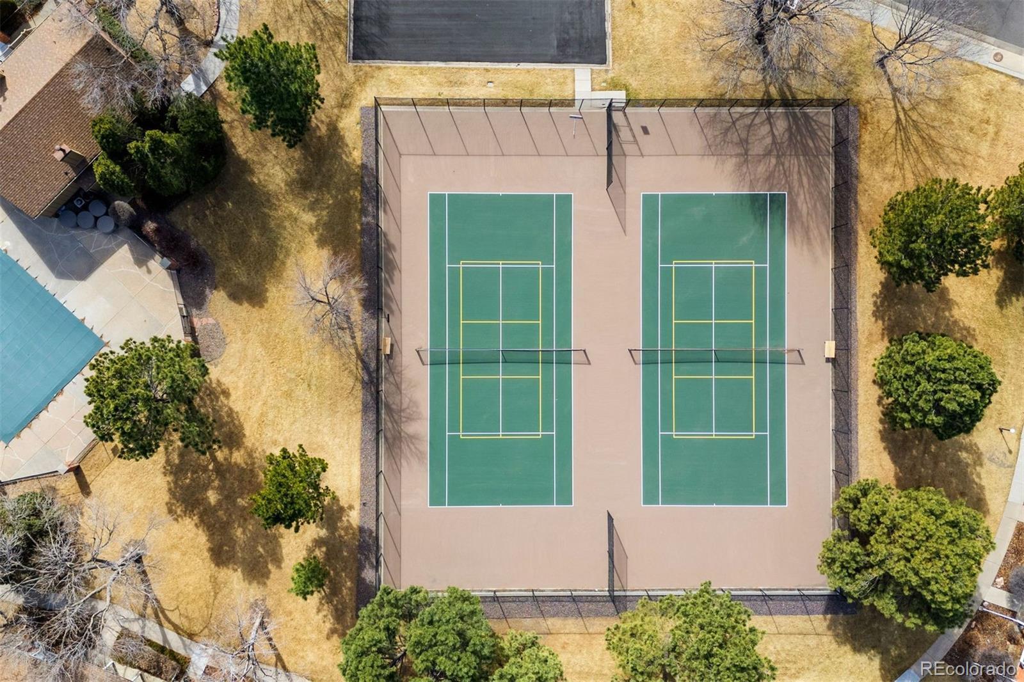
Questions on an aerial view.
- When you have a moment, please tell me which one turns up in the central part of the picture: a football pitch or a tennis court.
tennis court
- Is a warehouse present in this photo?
No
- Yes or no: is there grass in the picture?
Yes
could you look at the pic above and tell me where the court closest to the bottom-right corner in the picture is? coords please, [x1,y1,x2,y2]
[641,192,787,507]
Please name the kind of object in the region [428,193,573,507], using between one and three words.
tennis court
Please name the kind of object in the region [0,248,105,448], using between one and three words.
swimming pool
